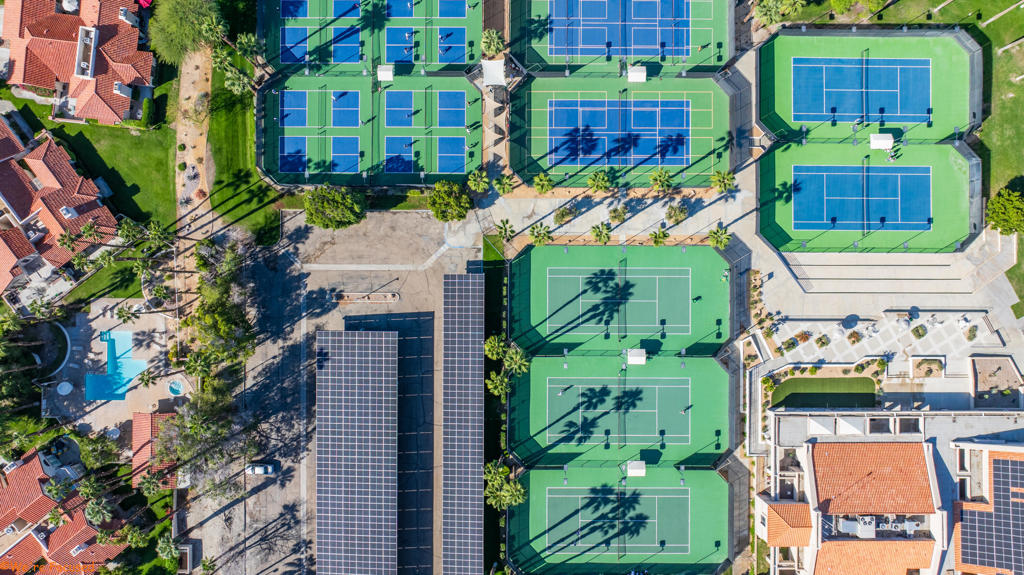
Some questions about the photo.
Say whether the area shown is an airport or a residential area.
residential area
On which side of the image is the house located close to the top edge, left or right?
left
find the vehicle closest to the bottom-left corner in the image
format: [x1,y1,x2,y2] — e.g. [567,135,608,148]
[243,464,273,478]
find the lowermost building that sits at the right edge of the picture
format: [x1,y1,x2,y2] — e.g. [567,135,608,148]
[757,402,1024,575]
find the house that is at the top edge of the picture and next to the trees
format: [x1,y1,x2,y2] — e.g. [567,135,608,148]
[6,0,157,124]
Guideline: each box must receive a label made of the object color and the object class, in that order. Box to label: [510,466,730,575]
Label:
green tennis court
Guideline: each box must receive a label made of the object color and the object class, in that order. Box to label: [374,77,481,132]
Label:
green sports court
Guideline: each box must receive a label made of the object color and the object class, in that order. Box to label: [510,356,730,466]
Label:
green tennis court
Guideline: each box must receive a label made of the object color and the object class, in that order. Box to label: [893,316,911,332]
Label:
white umbrella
